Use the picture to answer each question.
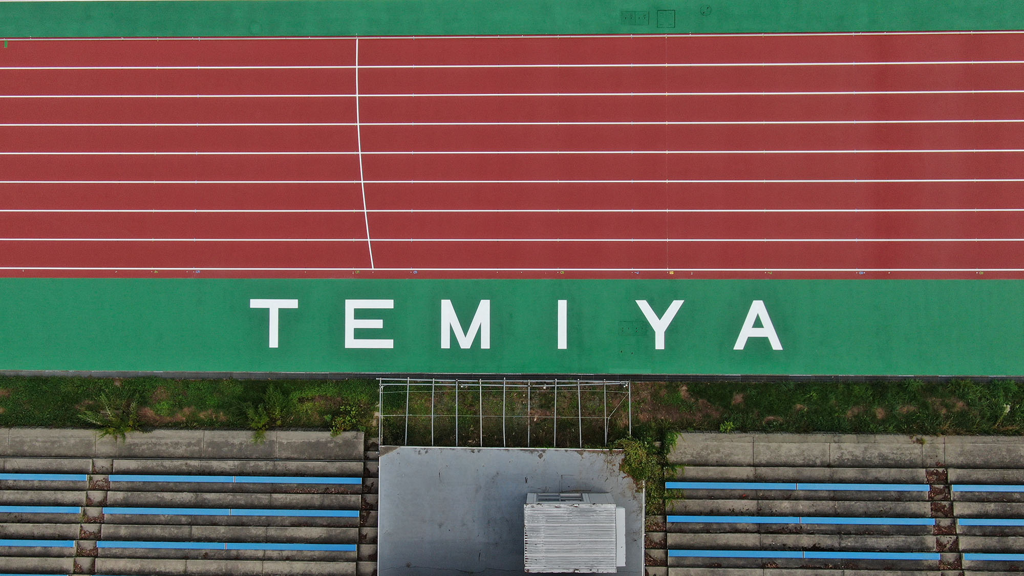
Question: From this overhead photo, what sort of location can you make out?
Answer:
sports ground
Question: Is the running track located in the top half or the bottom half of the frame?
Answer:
top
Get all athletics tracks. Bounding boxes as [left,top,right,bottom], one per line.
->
[0,30,1024,280]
